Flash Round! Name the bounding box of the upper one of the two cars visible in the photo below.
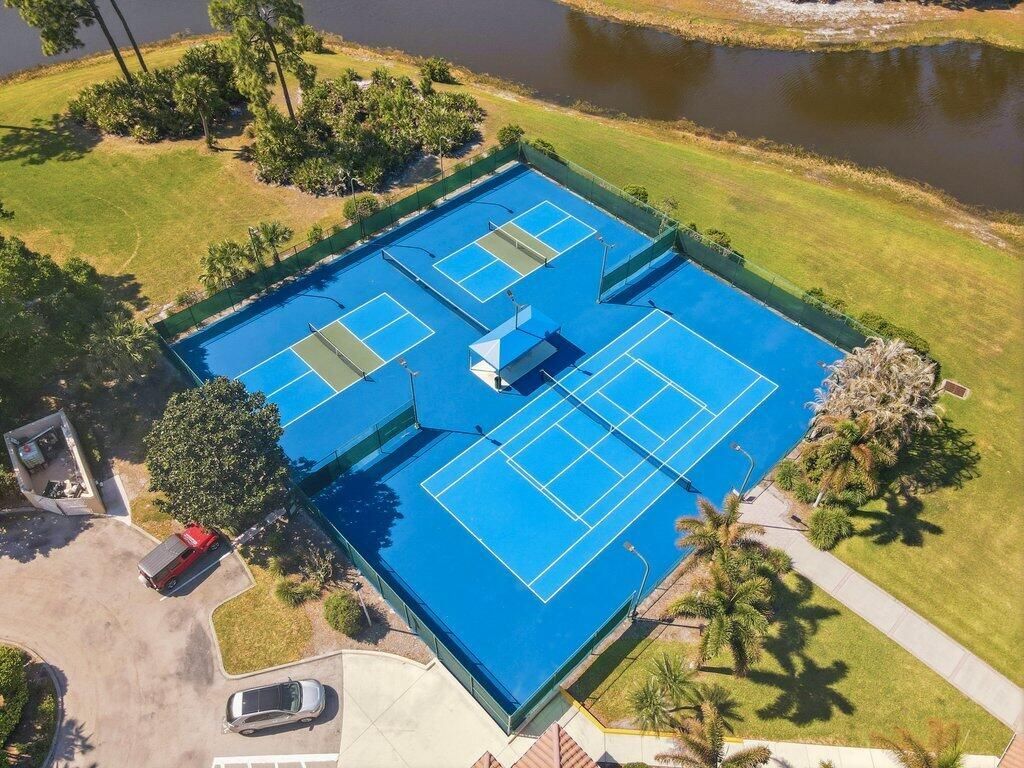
[139,520,226,591]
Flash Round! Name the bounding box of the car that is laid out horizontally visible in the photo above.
[226,679,326,736]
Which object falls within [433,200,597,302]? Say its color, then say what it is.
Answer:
blue sports court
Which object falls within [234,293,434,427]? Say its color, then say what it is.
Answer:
blue sports court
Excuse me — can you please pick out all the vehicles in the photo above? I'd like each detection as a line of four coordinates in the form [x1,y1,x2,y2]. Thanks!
[139,520,226,591]
[226,679,326,736]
